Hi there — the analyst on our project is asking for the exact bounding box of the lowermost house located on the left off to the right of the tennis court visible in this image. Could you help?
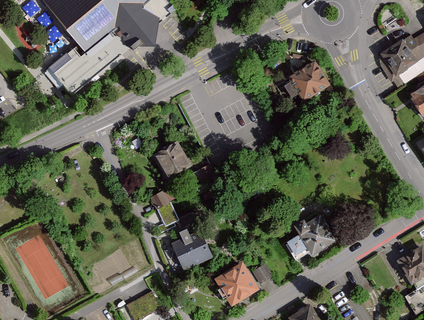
[127,292,158,320]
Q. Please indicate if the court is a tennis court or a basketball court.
tennis court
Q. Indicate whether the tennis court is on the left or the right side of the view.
left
